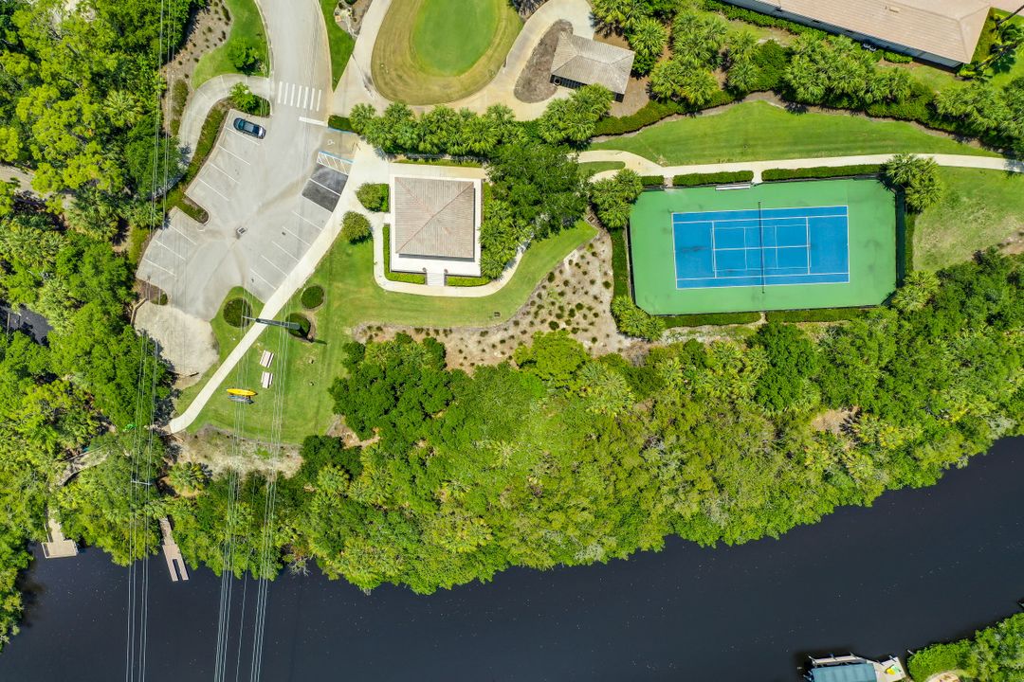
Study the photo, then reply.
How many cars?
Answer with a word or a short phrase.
1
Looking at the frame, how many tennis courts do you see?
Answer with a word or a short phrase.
1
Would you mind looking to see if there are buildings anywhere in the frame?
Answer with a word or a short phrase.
Yes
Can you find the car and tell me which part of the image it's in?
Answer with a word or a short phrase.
top left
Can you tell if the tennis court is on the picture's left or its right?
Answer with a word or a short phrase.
right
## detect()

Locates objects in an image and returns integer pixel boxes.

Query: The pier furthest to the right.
[159,516,189,582]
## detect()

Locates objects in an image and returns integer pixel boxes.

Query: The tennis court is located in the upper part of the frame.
[632,178,897,315]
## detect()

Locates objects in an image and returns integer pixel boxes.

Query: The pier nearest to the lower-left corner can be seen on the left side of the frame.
[40,505,82,559]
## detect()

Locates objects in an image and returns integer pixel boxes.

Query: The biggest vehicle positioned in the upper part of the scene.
[231,115,267,138]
